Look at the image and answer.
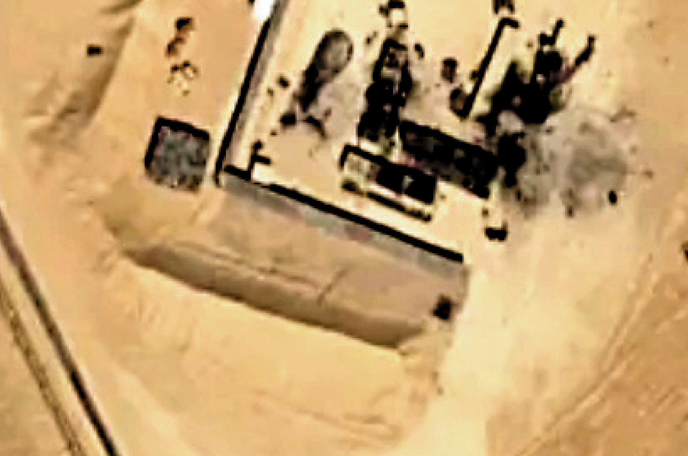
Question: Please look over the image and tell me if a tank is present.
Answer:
Yes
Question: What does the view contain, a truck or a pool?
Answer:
truck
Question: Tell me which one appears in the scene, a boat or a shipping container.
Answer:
shipping container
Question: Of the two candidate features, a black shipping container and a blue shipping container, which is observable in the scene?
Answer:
black shipping container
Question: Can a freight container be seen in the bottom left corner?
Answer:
No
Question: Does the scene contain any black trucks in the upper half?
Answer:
Yes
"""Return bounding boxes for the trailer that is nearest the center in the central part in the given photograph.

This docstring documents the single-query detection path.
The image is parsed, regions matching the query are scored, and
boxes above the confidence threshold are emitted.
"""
[342,159,441,220]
